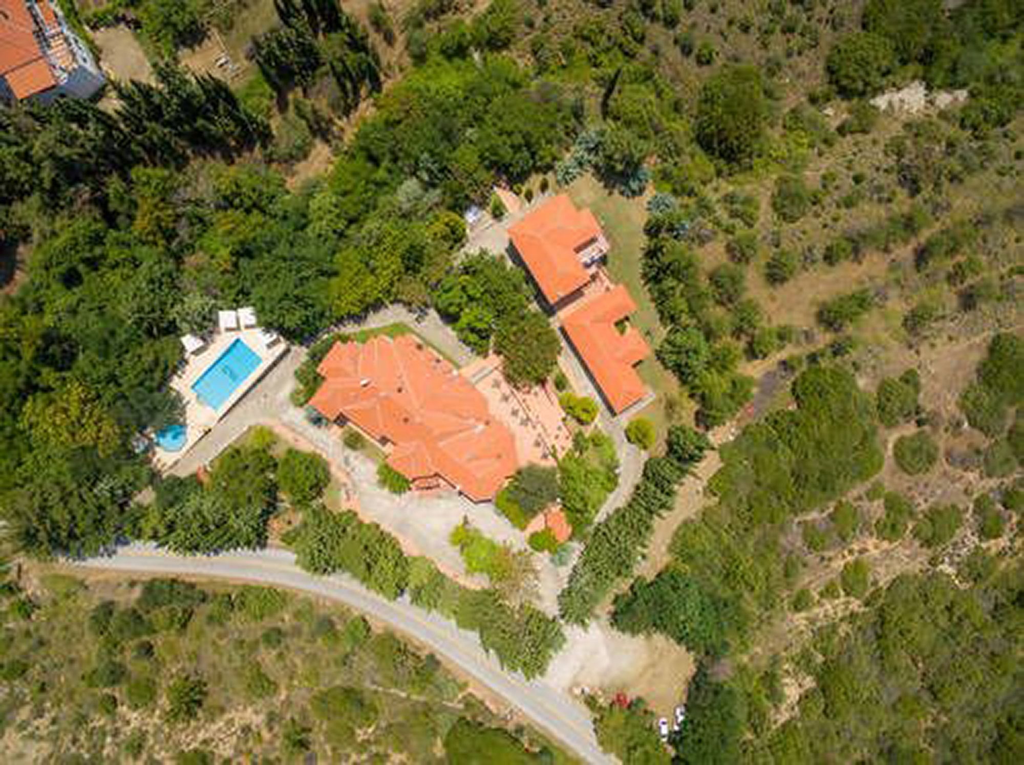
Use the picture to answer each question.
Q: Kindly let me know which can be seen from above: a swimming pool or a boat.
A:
swimming pool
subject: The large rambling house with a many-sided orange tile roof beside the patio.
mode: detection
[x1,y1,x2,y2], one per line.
[308,334,517,503]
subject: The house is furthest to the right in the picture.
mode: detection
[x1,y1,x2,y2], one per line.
[561,284,651,414]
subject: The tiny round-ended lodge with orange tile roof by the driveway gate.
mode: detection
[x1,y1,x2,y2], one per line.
[547,508,572,543]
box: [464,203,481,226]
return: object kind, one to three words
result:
vehicle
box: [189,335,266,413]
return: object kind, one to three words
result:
swimming pool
